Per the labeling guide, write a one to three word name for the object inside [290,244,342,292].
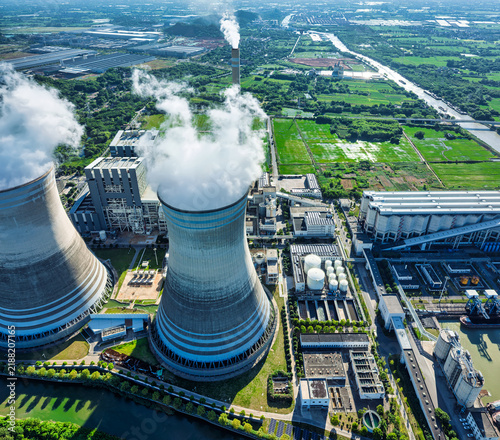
building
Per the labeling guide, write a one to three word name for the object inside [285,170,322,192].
building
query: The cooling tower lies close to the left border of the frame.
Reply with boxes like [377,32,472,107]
[0,154,117,348]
